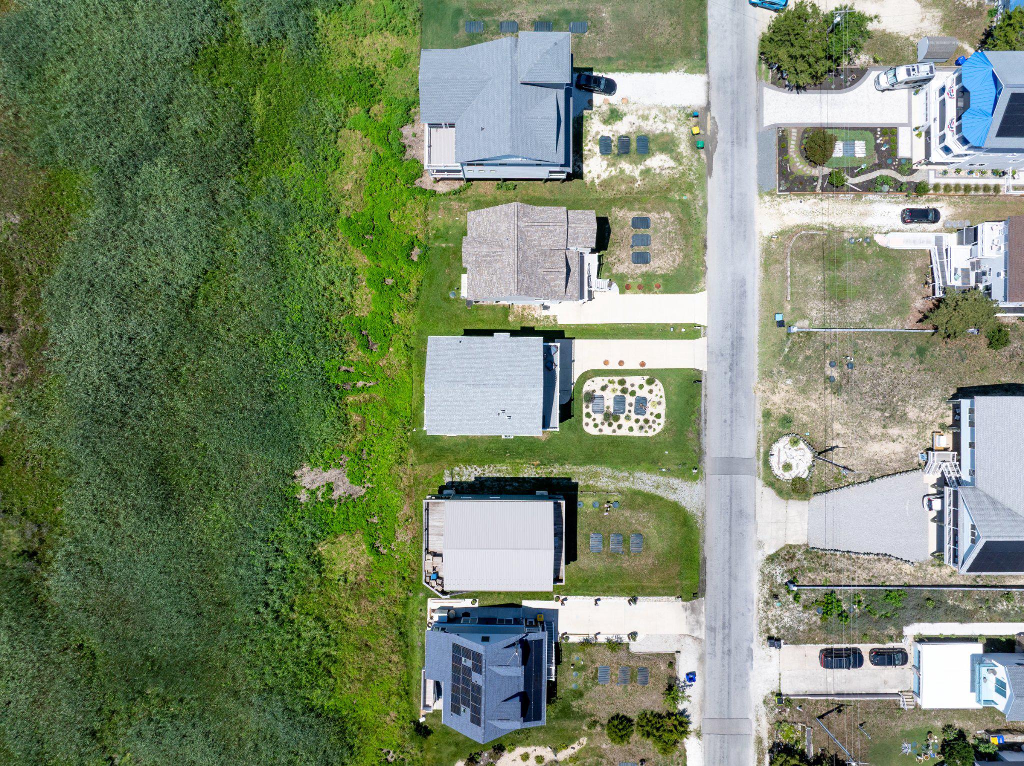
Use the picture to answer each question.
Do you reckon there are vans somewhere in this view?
Yes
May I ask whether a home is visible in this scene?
Yes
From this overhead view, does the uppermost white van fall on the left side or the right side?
right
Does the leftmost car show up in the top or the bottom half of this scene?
top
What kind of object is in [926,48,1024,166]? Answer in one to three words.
house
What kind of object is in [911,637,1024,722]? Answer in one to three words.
house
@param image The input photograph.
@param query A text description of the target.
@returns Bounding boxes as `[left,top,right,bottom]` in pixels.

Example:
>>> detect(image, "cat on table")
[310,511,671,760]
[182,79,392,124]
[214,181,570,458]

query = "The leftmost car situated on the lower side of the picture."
[819,647,863,669]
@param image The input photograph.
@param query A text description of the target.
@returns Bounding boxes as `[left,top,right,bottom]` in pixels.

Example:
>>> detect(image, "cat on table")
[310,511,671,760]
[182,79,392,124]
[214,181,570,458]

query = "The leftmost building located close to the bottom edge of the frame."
[422,609,557,744]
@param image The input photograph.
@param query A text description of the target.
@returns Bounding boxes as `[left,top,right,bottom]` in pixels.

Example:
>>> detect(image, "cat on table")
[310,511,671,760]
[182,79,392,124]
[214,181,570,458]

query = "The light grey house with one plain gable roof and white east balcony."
[415,333,559,435]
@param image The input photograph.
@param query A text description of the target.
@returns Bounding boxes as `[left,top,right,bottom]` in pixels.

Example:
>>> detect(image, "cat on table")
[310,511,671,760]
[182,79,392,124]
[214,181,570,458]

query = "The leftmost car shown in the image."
[574,74,617,98]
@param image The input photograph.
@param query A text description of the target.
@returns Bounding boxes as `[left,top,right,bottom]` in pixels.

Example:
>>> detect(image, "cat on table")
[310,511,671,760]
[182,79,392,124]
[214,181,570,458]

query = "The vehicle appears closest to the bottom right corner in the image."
[868,647,907,668]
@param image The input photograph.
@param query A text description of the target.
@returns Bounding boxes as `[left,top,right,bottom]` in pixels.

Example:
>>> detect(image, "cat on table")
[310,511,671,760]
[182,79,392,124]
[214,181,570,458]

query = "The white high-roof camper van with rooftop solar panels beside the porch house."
[869,60,940,92]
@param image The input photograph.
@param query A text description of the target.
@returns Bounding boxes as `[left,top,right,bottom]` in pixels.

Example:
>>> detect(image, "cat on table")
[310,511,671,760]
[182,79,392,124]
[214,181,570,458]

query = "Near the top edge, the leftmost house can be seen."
[419,32,573,186]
